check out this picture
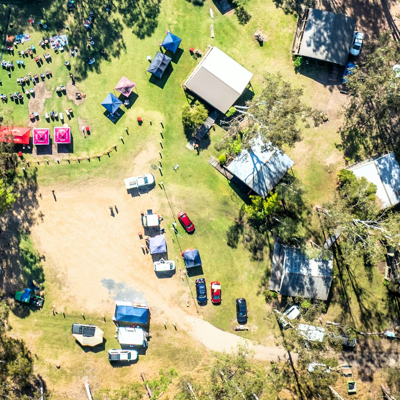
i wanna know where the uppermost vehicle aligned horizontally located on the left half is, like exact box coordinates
[126,174,153,189]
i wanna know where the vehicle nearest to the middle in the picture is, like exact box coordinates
[178,211,194,233]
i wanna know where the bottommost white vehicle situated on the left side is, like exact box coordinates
[110,349,136,362]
